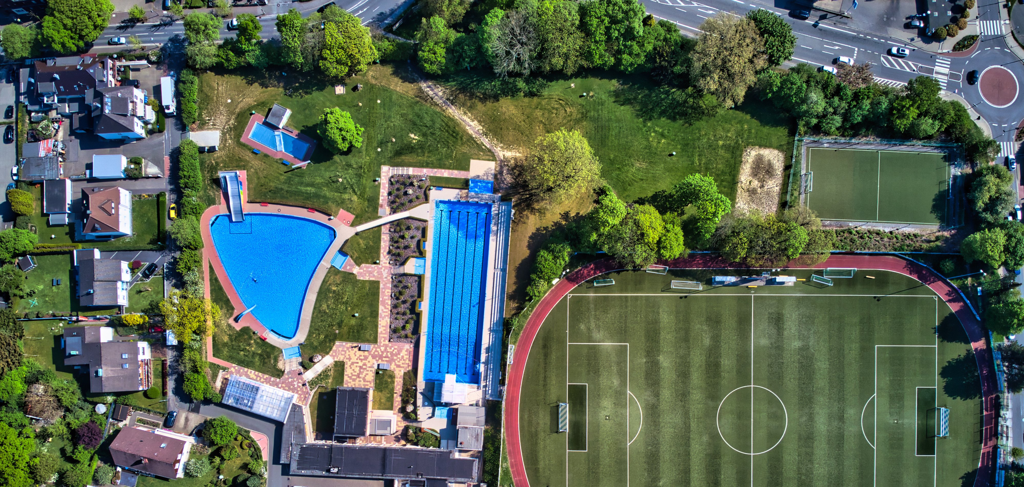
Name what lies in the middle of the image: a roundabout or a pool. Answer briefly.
pool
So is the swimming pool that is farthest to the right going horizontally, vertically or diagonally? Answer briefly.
vertically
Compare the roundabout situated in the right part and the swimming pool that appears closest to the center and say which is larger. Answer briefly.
the swimming pool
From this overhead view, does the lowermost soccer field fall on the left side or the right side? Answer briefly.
right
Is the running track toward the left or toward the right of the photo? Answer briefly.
right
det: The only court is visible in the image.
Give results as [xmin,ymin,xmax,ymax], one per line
[733,145,787,215]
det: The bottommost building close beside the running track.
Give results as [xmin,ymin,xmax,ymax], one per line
[290,441,478,487]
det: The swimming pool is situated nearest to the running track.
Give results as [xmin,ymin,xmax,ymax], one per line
[421,198,495,386]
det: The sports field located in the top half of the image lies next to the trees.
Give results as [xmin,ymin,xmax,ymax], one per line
[805,145,952,227]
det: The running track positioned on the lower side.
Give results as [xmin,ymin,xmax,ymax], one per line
[504,254,1000,487]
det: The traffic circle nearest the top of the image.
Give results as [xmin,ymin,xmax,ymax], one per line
[979,65,1019,107]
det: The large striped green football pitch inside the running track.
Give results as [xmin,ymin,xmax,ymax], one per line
[519,269,983,487]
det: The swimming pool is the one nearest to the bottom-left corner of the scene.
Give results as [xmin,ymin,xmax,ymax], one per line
[208,211,339,342]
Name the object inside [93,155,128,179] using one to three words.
building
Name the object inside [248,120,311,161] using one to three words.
swimming pool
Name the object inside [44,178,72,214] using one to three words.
building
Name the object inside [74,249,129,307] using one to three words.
house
